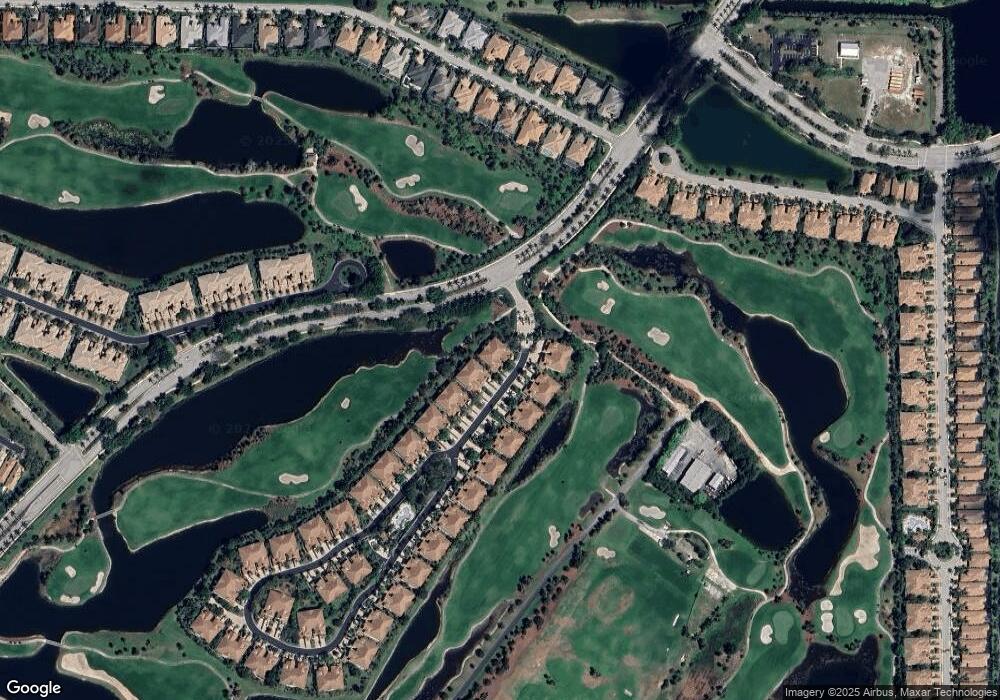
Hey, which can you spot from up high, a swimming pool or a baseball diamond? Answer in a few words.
swimming pool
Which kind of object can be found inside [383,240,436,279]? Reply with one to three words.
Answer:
pond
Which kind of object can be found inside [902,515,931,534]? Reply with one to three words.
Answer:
swimming pool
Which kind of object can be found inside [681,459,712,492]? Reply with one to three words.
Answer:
building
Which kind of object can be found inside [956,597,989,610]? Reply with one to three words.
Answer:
house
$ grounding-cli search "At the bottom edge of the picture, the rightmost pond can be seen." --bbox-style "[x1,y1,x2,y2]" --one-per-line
[776,636,877,700]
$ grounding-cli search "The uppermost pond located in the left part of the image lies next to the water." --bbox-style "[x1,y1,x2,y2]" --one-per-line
[173,61,386,166]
